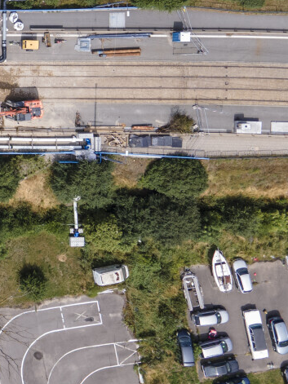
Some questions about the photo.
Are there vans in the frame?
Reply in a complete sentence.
Yes, a van appears in the view.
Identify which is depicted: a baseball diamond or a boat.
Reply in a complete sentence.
I can see a boat in this picture.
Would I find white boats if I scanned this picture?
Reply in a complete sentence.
Yes, the photo shows a white boat.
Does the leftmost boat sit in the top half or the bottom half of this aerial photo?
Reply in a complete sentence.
The bottom half of the photo is where the leftmost boat is.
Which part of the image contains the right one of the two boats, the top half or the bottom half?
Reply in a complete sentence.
The bottom half of the photo is where the right one of the two boats is.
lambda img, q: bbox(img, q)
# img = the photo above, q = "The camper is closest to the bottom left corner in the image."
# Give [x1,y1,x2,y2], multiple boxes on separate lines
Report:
[88,261,126,285]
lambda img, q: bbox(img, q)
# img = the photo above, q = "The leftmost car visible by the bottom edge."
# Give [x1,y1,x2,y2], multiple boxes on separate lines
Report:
[174,329,197,368]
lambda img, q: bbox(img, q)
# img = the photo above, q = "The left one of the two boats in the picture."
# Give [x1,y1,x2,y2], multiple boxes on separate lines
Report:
[181,264,204,312]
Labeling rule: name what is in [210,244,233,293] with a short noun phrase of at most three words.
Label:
boat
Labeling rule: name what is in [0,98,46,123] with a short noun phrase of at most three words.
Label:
work vehicle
